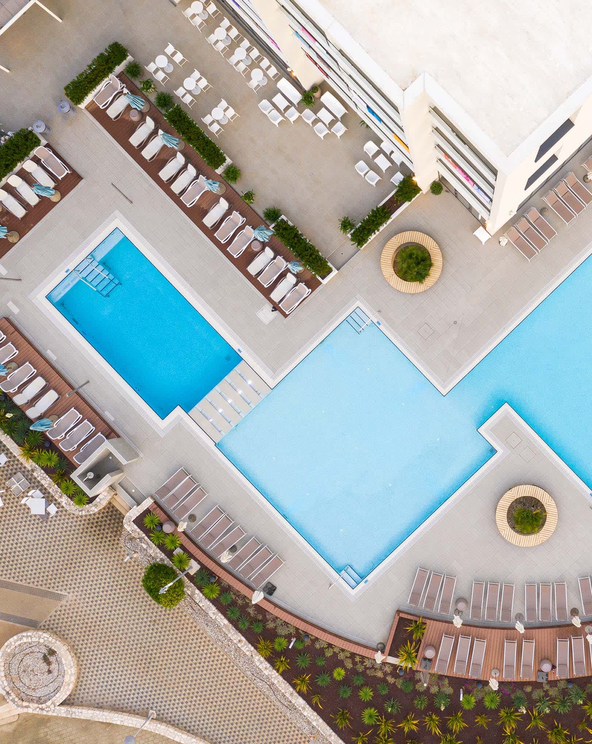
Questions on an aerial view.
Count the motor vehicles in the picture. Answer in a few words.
0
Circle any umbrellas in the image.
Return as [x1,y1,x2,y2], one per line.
[290,259,307,273]
[127,91,152,112]
[178,512,198,527]
[257,226,275,241]
[0,227,19,243]
[0,360,18,373]
[374,640,386,662]
[513,612,525,632]
[490,667,501,690]
[206,177,226,194]
[220,544,239,560]
[259,582,277,602]
[570,606,583,625]
[29,416,60,430]
[581,168,592,185]
[584,624,592,643]
[453,607,465,626]
[497,237,508,251]
[420,658,432,684]
[162,131,186,151]
[32,185,61,201]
